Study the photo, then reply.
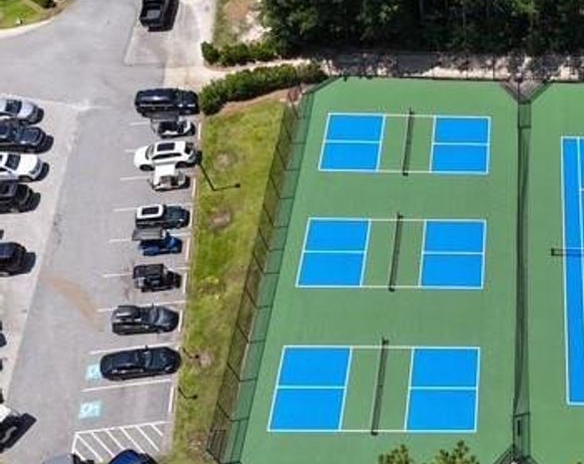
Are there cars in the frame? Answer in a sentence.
Yes, a car can be made out from above.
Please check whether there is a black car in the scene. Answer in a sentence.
Yes, there is a black car in the image.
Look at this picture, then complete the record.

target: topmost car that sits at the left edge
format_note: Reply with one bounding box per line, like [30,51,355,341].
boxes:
[0,95,47,125]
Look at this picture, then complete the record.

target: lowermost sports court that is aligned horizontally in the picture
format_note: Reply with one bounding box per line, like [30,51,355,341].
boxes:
[269,337,480,437]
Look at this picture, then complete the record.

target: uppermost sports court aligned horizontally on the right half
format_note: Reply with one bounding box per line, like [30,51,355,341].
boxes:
[319,104,490,175]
